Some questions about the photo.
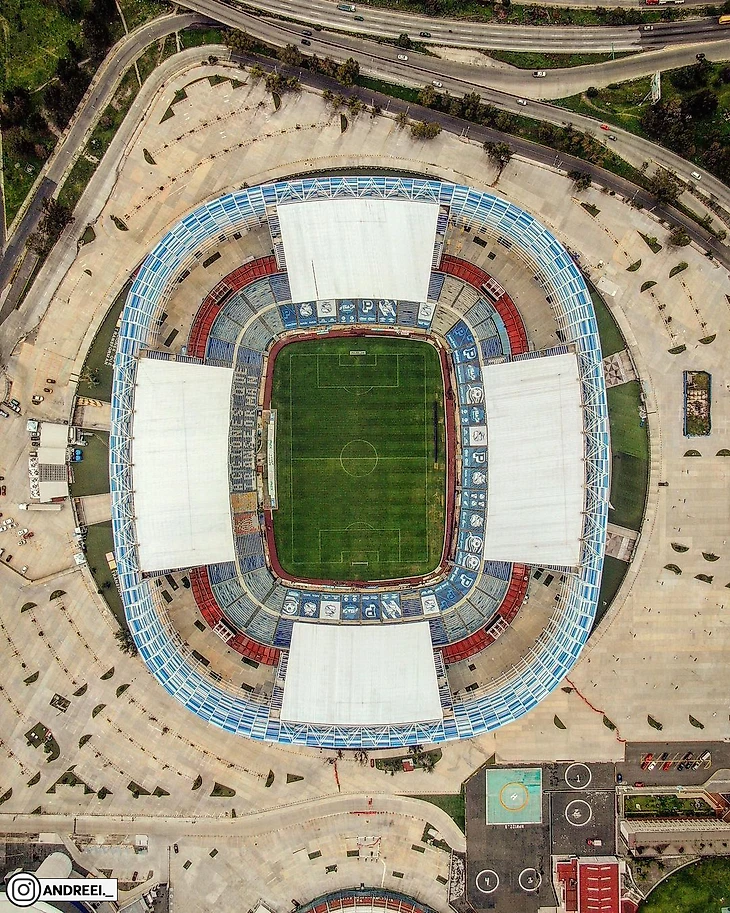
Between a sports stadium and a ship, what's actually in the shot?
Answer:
sports stadium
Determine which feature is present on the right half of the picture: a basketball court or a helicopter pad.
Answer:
helicopter pad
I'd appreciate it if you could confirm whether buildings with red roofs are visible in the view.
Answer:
Yes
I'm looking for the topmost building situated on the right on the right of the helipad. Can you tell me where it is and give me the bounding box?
[620,812,730,858]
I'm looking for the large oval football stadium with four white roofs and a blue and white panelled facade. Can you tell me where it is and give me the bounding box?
[109,177,610,749]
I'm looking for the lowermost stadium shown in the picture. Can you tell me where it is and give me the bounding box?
[292,878,430,913]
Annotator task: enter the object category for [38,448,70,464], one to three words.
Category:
shed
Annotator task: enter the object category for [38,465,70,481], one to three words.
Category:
shed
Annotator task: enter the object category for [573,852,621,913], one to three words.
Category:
building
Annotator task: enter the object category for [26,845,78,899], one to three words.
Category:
building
